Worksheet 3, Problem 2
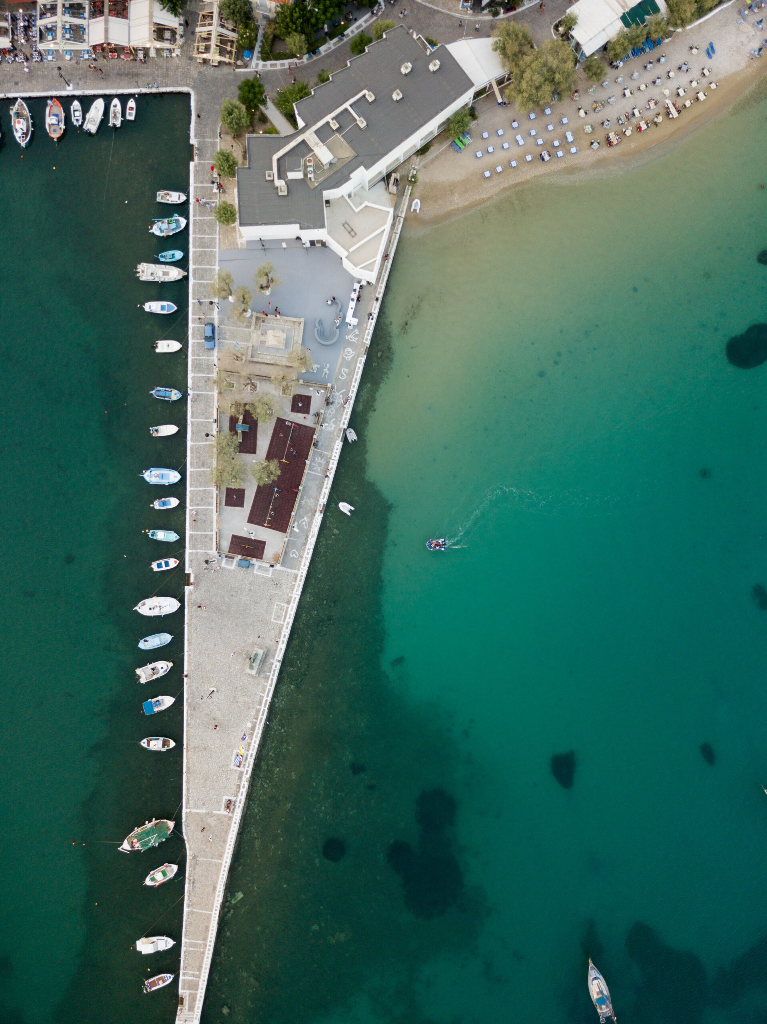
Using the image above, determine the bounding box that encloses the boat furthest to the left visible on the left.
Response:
[9,98,33,148]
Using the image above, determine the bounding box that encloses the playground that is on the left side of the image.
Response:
[218,371,327,562]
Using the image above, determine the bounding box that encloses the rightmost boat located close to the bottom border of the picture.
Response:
[586,951,615,1023]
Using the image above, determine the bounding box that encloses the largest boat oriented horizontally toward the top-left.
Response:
[138,263,188,282]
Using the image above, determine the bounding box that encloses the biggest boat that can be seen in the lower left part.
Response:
[120,819,175,852]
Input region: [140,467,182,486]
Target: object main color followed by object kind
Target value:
white boat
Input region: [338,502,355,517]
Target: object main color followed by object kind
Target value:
white boat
